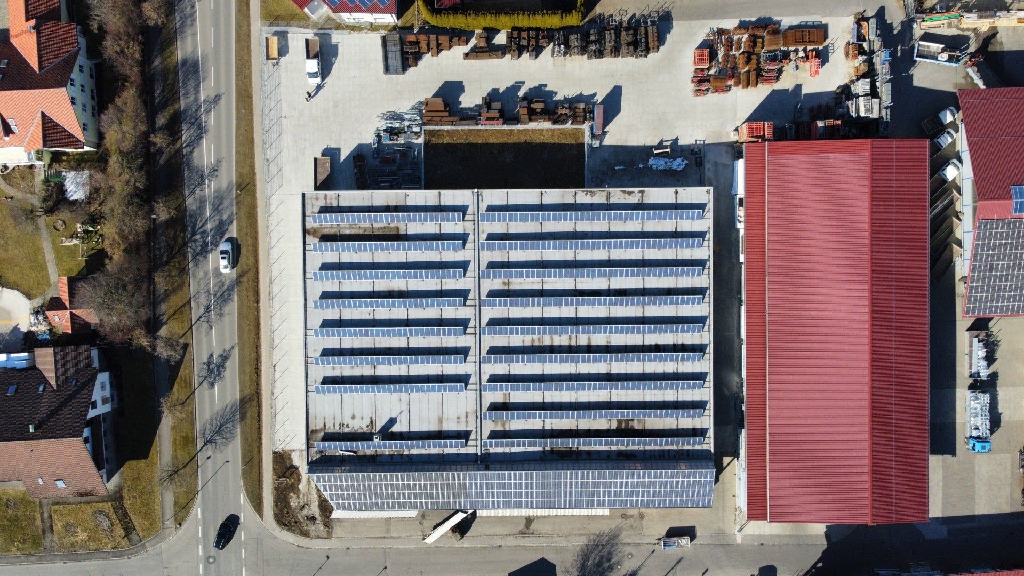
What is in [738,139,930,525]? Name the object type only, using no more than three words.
building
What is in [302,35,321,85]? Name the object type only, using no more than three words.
vehicle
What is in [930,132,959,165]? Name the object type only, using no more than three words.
truck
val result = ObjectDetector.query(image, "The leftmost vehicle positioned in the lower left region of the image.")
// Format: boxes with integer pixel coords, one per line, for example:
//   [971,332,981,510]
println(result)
[214,518,236,551]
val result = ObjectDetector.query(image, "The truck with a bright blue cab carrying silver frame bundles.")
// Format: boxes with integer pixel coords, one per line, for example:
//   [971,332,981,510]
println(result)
[965,391,995,453]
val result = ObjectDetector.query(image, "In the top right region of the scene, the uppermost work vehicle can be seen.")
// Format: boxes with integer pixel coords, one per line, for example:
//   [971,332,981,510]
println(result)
[962,46,998,72]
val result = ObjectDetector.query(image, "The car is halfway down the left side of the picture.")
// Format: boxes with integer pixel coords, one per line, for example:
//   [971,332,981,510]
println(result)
[217,242,232,273]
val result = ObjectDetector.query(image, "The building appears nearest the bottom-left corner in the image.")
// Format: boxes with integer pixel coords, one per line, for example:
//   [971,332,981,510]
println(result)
[0,345,126,499]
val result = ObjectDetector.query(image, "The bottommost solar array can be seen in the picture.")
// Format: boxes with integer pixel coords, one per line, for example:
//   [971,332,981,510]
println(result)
[314,471,714,510]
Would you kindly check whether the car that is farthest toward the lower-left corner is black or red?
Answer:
black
